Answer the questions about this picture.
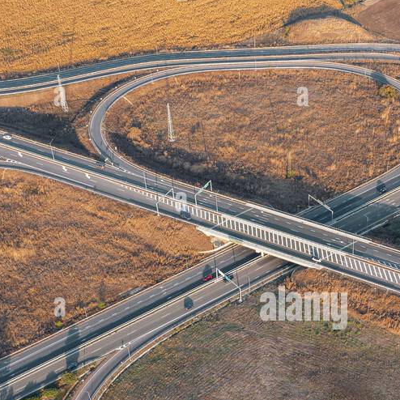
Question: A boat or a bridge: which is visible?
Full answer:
Looking from above, you can make out a bridge.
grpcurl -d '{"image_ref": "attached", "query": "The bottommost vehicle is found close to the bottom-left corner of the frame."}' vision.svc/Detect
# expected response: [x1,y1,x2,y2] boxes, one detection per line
[61,358,81,372]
